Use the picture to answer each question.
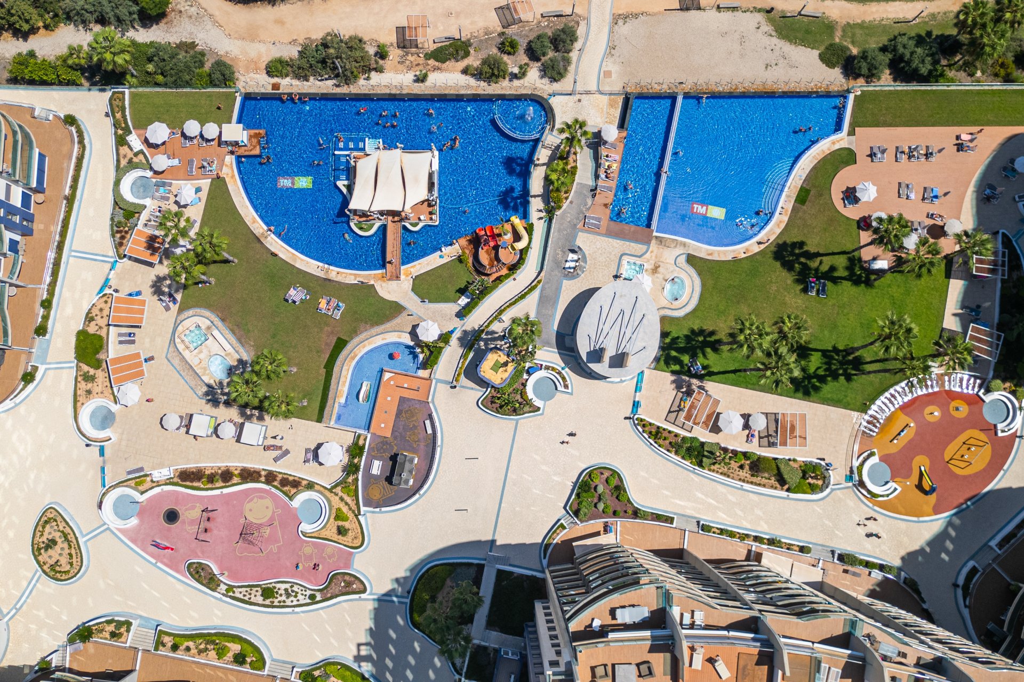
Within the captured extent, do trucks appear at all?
No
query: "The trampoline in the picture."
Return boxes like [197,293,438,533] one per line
[162,507,180,525]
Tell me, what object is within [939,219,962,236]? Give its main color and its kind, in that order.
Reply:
white umbrella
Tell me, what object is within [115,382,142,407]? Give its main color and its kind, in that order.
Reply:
white umbrella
